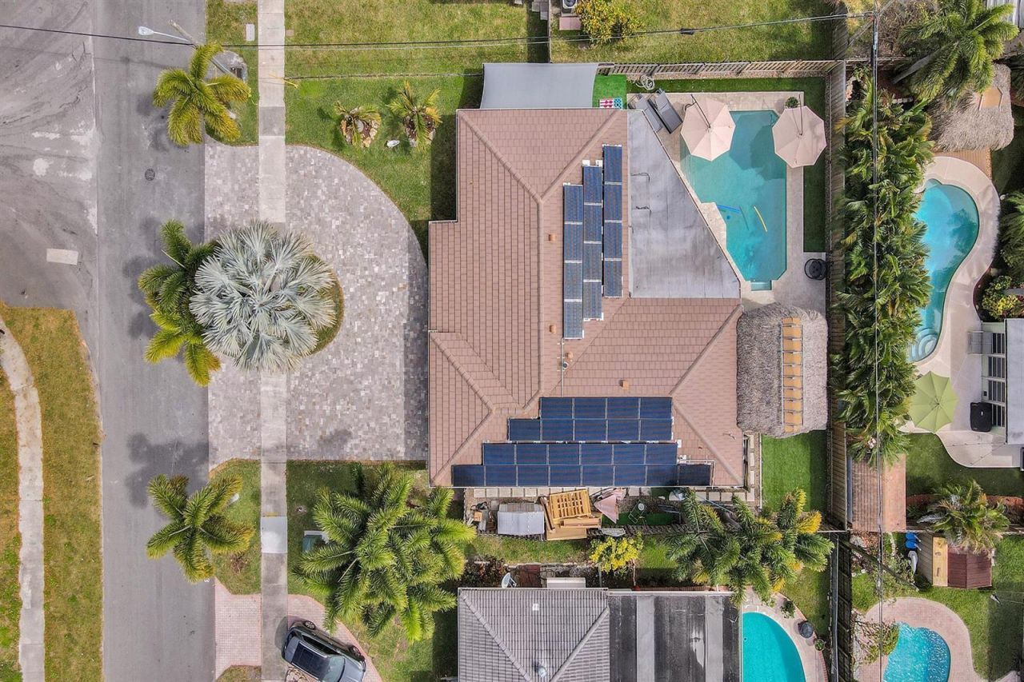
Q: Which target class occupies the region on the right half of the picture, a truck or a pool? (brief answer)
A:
pool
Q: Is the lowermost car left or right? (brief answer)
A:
left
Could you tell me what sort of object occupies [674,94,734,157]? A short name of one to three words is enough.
umbrella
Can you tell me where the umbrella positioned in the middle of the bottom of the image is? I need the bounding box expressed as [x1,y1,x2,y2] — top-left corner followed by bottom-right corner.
[590,489,626,523]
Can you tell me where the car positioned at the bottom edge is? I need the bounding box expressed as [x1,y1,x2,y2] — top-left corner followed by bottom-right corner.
[277,618,369,682]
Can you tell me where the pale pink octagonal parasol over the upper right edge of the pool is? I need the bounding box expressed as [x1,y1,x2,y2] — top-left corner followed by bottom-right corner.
[767,90,824,166]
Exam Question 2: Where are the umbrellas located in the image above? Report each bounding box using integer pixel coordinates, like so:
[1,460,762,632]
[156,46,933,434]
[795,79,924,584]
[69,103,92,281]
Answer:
[767,90,824,166]
[674,94,734,157]
[902,371,962,434]
[590,489,626,523]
